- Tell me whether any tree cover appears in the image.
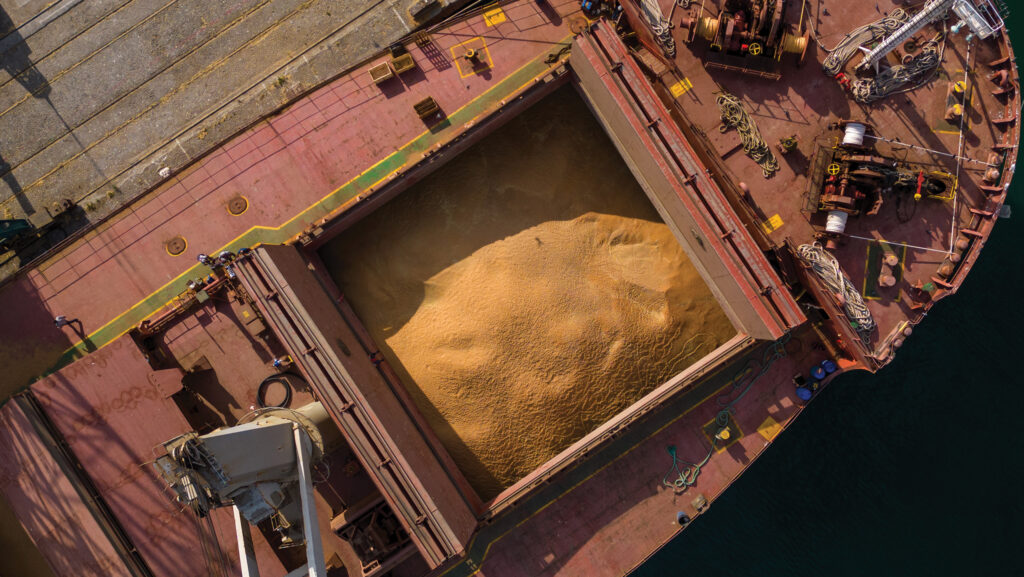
No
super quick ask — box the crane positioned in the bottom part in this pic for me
[140,396,345,577]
